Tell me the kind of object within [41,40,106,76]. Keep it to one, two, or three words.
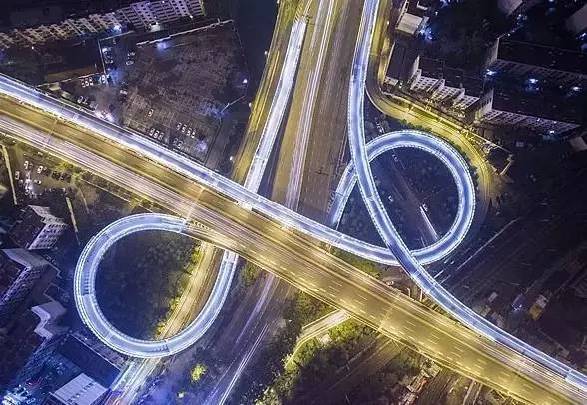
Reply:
building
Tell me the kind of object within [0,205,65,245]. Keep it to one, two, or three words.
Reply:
building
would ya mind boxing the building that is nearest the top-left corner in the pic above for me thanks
[0,0,84,56]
